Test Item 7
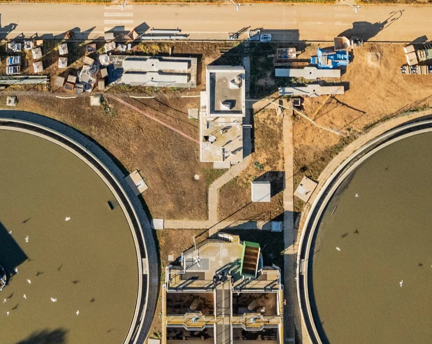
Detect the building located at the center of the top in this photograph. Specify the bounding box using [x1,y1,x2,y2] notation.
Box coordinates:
[200,66,246,117]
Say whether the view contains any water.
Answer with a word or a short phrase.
Yes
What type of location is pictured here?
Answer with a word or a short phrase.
industrial area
